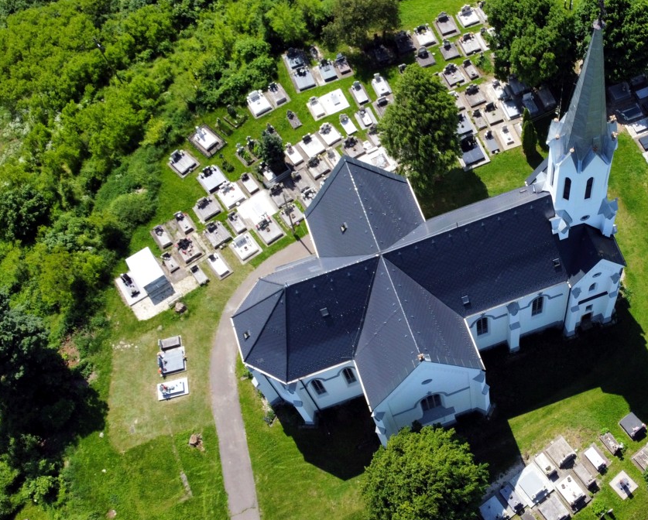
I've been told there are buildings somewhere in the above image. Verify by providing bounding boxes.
[125,247,172,297]
[231,0,630,456]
